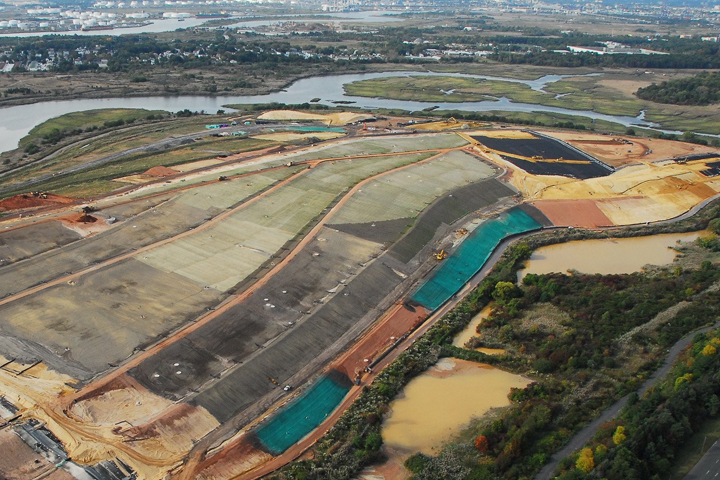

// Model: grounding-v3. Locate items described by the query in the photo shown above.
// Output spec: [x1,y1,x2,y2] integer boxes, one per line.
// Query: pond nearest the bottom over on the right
[383,358,536,453]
